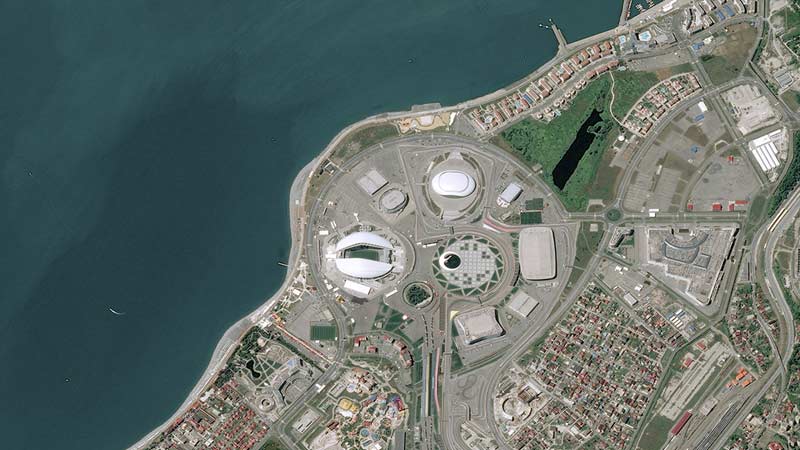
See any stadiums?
Yes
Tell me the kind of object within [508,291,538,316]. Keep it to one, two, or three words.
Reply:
building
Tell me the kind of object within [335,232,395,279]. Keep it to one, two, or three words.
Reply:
stadium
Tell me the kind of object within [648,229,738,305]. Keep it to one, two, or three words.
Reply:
building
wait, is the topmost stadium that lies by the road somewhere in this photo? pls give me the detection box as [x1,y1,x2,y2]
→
[428,152,480,217]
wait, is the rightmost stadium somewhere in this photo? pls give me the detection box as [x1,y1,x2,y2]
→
[520,227,555,280]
